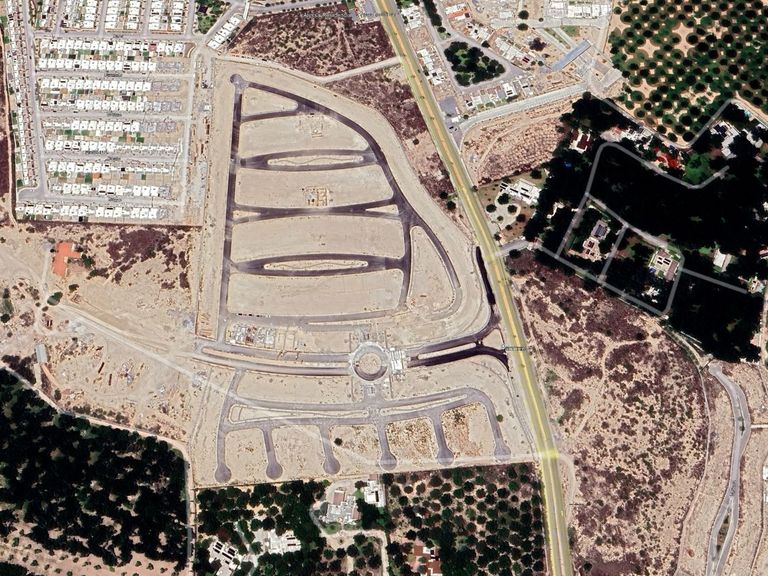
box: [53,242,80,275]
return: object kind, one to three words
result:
house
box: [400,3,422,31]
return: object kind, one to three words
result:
house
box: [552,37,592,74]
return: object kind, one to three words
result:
building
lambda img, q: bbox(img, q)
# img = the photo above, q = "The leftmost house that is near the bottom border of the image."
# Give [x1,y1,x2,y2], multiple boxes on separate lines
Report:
[209,541,240,572]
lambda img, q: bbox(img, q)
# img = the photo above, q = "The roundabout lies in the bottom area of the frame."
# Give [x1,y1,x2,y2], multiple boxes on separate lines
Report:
[351,344,390,383]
